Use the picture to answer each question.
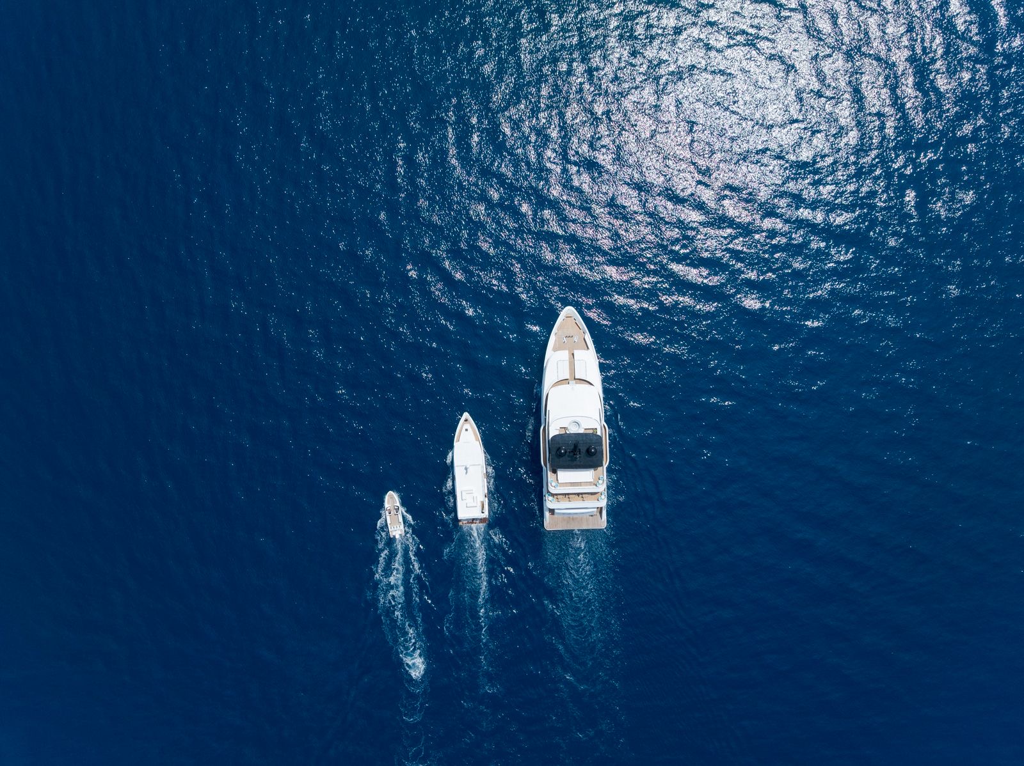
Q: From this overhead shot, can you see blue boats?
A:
No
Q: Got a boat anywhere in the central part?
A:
Yes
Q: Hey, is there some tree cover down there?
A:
No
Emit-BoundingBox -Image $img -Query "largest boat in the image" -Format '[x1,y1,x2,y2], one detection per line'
[540,305,610,530]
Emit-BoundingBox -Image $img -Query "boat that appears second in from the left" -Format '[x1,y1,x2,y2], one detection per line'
[453,411,488,527]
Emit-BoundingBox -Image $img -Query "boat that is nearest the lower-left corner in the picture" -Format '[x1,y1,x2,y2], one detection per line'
[385,490,405,539]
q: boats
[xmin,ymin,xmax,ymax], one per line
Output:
[385,490,405,539]
[453,411,488,527]
[540,305,610,530]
